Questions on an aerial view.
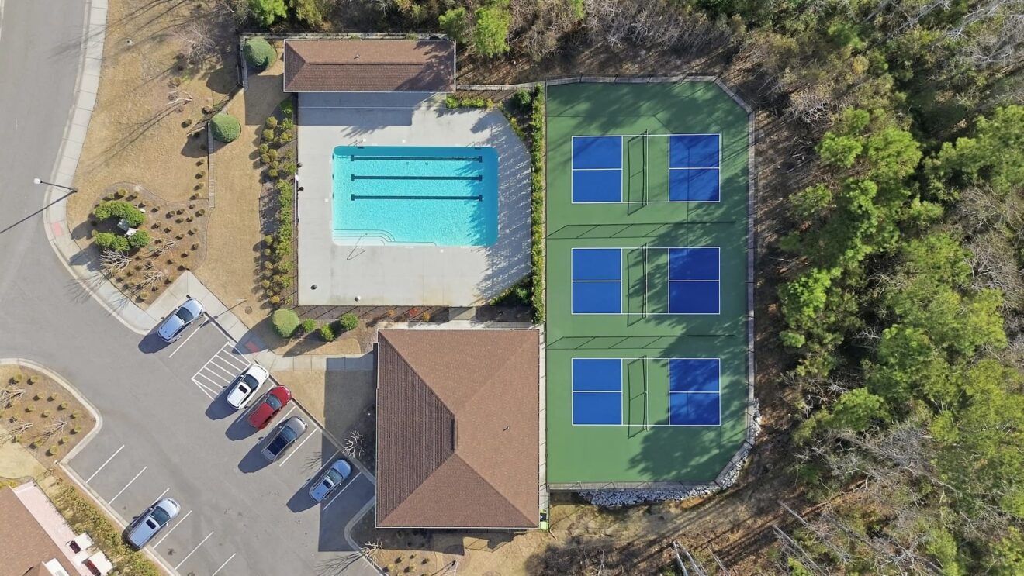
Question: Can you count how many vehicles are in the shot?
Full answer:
Looking from above, you can make out 6 vehicles.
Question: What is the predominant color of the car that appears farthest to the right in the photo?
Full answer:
The car that appears farthest to the right looks blue in the image.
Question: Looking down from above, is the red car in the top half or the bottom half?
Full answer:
The bottom half of the photo is where the red car is.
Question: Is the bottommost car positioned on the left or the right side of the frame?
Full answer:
It is on the left.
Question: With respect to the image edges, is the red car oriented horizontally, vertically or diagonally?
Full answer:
The red car runs diagonally in the image.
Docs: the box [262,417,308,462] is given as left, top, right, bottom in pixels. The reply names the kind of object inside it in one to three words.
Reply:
car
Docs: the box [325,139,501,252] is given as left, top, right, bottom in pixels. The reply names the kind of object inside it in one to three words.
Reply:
swimming pool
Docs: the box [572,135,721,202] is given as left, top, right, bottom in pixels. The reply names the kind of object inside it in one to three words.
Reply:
sports court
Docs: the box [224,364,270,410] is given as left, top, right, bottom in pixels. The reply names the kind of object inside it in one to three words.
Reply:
car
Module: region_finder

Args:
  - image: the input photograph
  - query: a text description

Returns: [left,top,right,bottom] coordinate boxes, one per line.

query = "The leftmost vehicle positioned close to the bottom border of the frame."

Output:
[124,496,181,552]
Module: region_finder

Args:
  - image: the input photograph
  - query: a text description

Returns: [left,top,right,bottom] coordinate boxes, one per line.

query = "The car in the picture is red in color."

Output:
[248,387,292,430]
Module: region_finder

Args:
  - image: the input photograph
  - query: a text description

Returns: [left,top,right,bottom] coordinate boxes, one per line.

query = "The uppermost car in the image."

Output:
[156,297,205,344]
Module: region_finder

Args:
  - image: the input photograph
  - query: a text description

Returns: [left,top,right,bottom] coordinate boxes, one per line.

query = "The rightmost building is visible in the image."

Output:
[374,329,539,528]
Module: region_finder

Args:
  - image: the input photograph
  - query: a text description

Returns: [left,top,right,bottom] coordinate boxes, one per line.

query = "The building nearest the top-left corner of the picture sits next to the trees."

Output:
[285,40,456,94]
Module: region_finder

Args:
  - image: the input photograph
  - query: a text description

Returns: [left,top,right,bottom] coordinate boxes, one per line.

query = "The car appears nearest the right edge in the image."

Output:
[308,458,353,504]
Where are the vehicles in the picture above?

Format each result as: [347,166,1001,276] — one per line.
[224,364,270,410]
[124,496,181,552]
[156,297,205,344]
[262,417,308,462]
[308,458,353,504]
[248,387,292,430]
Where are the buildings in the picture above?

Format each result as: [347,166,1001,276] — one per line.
[0,481,111,576]
[374,329,539,528]
[285,40,456,94]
